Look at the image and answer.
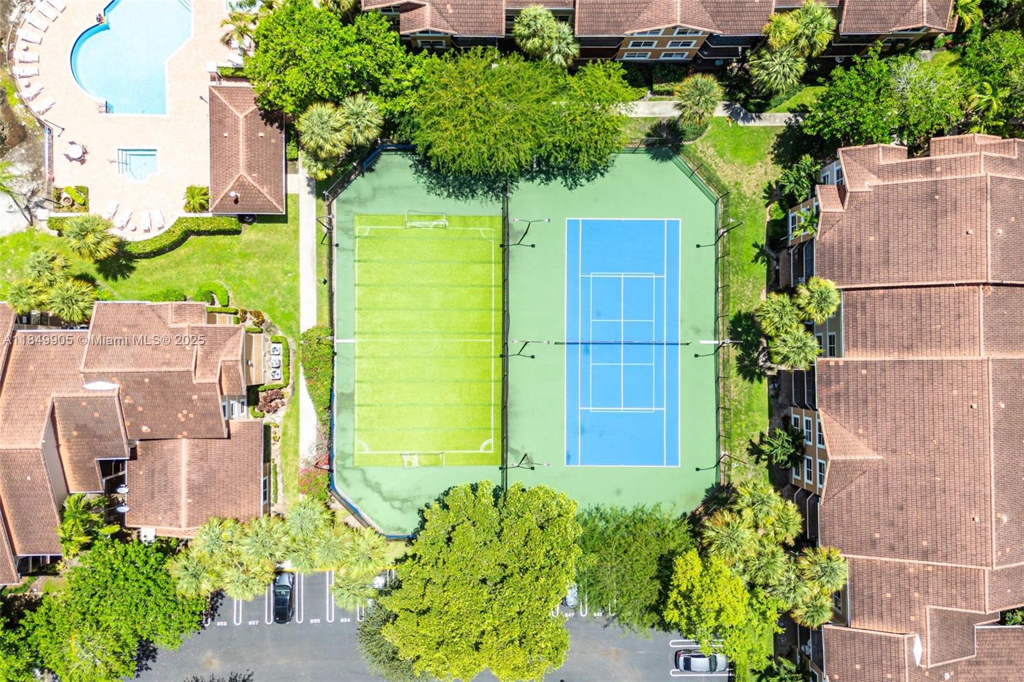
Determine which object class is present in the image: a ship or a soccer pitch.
soccer pitch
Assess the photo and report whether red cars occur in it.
No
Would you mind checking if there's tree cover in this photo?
Yes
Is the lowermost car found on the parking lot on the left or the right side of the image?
right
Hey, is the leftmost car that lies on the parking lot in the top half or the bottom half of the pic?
bottom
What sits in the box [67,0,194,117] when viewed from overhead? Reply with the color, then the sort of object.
white swimming pool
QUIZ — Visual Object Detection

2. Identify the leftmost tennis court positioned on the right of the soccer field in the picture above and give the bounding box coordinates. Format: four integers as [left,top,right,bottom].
[509,149,716,535]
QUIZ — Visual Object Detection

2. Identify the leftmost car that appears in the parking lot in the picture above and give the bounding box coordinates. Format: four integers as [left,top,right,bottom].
[269,574,294,626]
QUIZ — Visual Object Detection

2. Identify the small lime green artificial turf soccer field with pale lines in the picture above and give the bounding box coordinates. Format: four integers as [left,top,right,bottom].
[335,151,505,536]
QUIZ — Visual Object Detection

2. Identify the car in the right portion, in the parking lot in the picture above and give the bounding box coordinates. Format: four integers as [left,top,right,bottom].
[675,649,726,675]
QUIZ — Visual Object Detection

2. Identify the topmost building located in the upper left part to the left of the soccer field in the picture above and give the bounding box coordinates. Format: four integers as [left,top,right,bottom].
[208,85,286,214]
